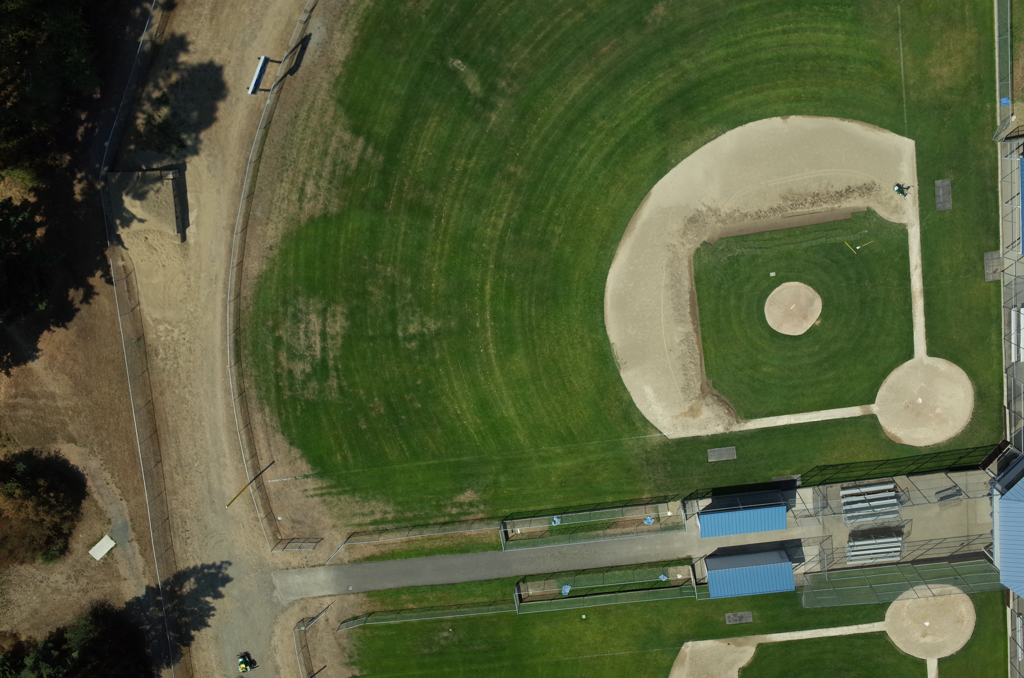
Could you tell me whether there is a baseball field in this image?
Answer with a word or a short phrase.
Yes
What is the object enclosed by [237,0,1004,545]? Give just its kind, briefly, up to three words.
baseball field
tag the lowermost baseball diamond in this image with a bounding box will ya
[300,567,1008,678]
